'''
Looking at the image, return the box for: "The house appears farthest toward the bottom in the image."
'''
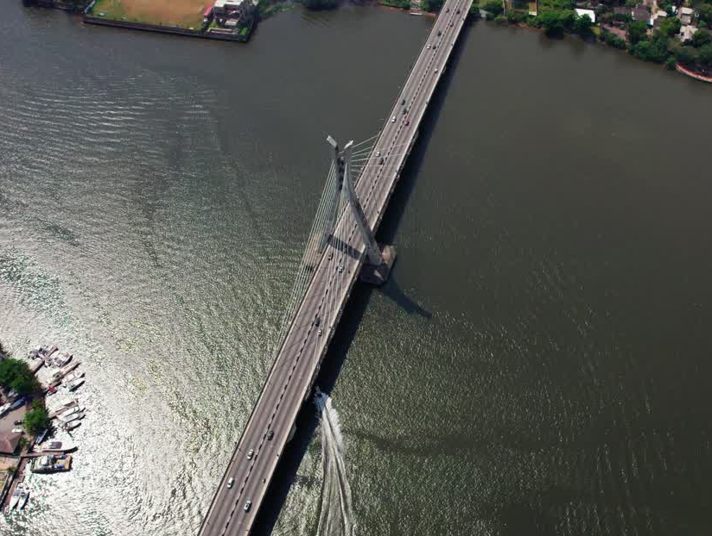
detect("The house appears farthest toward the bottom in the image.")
[0,431,24,454]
